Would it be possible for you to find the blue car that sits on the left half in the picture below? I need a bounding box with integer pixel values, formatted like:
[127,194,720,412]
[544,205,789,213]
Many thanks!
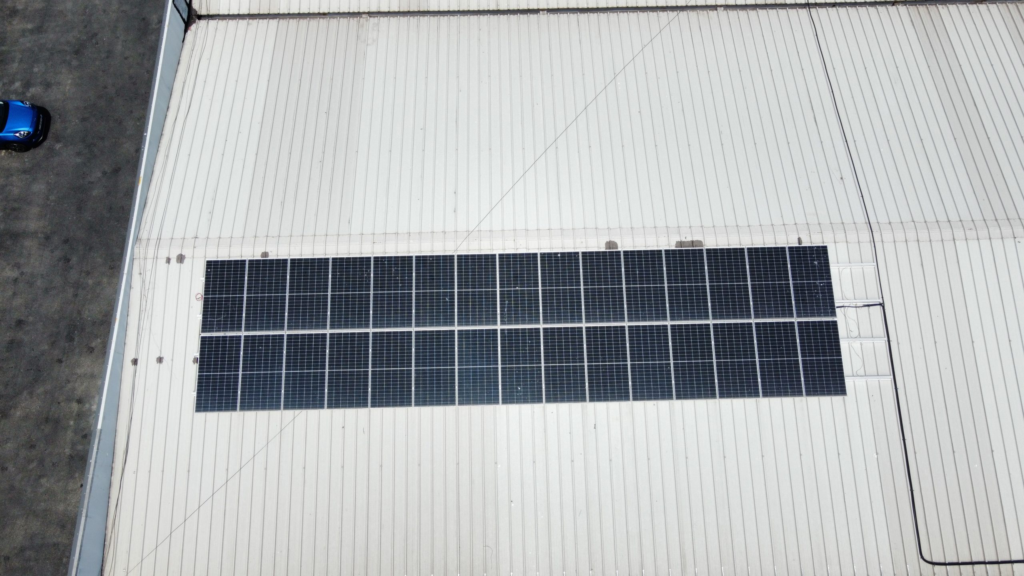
[0,103,44,151]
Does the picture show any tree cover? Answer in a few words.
No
